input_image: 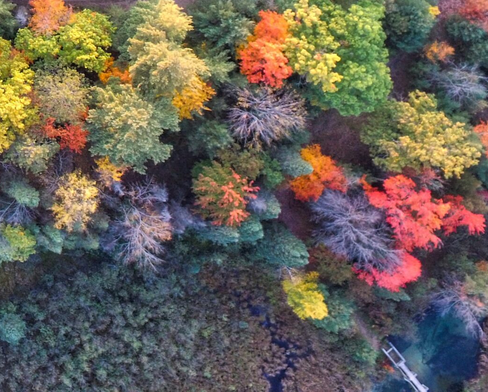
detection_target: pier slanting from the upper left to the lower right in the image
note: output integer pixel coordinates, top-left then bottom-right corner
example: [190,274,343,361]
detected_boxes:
[382,340,429,392]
